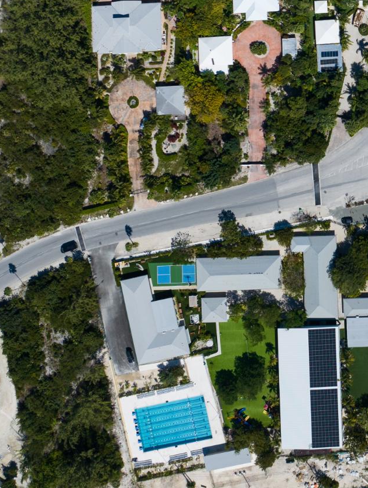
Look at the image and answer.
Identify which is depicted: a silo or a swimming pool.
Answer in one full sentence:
I can see a swimming pool in this picture.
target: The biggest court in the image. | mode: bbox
[149,262,198,287]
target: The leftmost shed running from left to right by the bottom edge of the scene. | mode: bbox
[203,446,254,471]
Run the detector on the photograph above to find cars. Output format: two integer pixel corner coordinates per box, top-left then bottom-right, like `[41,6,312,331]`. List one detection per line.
[126,347,134,361]
[62,241,77,251]
[341,217,353,223]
